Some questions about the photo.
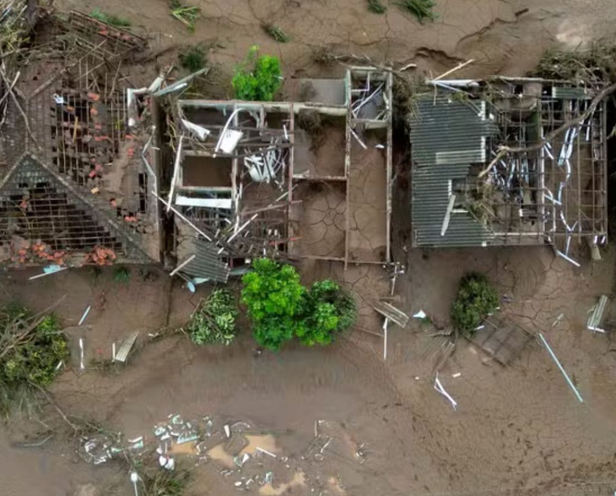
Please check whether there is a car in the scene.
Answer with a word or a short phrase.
No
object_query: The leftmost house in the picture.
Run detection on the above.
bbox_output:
[0,10,160,264]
